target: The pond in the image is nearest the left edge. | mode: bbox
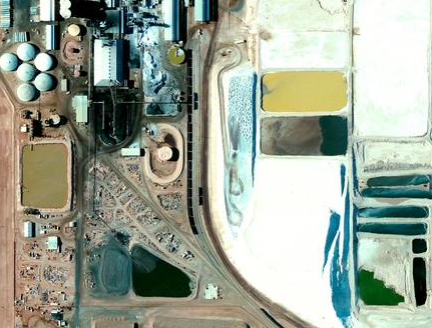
[24,144,67,208]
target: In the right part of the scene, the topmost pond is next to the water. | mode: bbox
[262,70,347,111]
